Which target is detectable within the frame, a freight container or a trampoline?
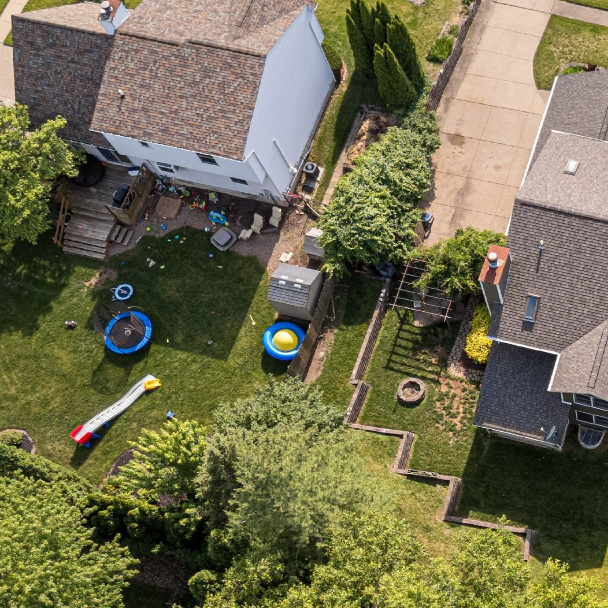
trampoline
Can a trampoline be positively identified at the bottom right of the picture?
No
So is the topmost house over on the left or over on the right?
left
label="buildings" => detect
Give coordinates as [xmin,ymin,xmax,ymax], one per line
[265,261,321,318]
[473,64,608,460]
[13,0,342,208]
